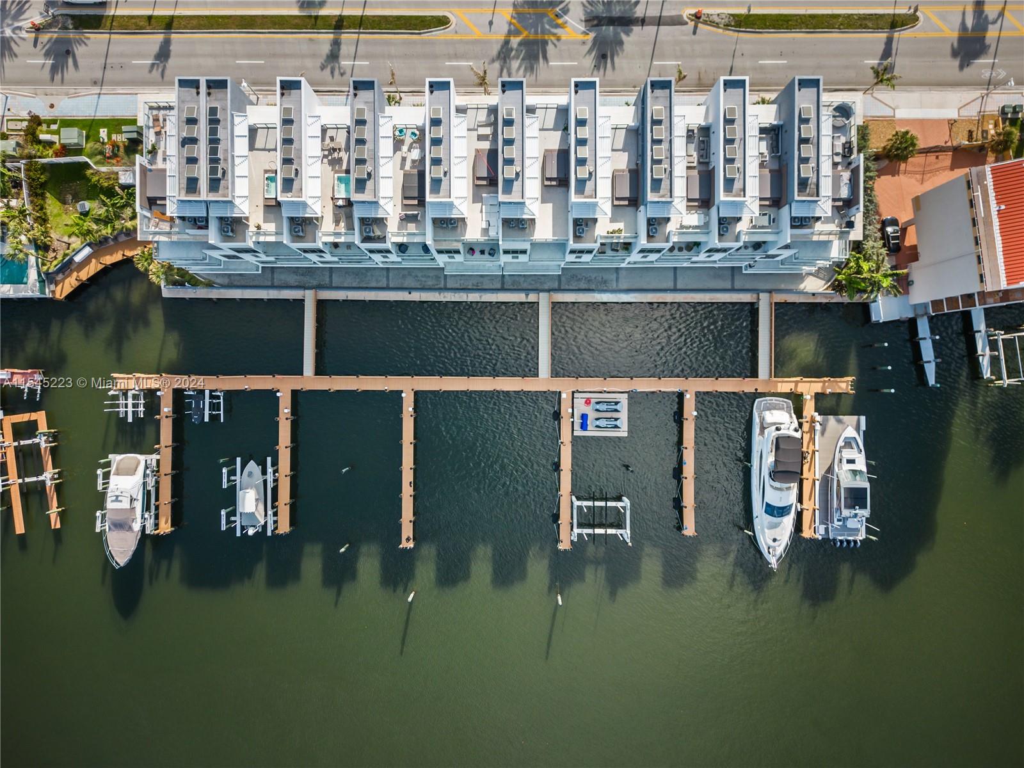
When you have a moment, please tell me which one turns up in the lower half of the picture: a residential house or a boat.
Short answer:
boat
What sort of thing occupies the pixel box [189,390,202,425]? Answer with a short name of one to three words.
boat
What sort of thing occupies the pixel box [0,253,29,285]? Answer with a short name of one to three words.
swimming pool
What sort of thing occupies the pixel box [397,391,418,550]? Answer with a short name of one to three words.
pier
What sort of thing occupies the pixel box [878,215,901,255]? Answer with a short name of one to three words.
car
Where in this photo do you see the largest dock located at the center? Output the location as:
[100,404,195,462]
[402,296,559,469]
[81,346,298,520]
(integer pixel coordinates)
[112,375,854,395]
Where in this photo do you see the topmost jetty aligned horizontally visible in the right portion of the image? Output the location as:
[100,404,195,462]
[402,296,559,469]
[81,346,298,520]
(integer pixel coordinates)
[866,294,932,323]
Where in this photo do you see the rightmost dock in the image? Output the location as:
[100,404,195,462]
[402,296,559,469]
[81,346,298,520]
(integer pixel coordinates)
[963,315,998,379]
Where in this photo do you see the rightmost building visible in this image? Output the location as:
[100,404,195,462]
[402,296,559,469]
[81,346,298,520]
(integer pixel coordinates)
[908,156,1024,324]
